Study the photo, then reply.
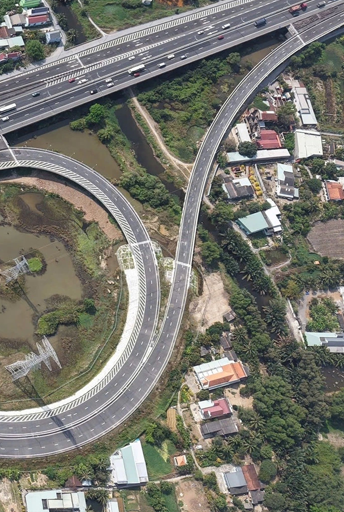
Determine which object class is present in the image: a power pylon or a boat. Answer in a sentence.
This aerial view contains a power pylon.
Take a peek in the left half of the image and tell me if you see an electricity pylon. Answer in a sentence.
Yes, an electricity pylon shows up in the left half of the image.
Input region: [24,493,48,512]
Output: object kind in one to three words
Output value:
house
